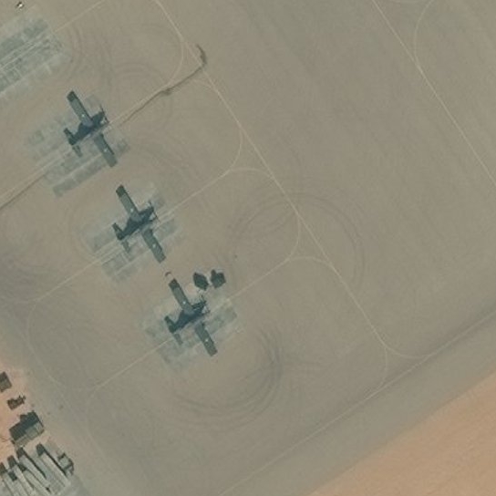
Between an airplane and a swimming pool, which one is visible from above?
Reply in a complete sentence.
This aerial view contains an airplane.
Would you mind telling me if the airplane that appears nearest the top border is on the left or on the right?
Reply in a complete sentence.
It is on the left.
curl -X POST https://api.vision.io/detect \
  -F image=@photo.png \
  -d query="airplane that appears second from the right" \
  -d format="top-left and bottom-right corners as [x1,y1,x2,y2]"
[113,195,166,260]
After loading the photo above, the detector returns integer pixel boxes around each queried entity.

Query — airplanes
[113,195,166,260]
[166,289,218,354]
[65,99,117,165]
